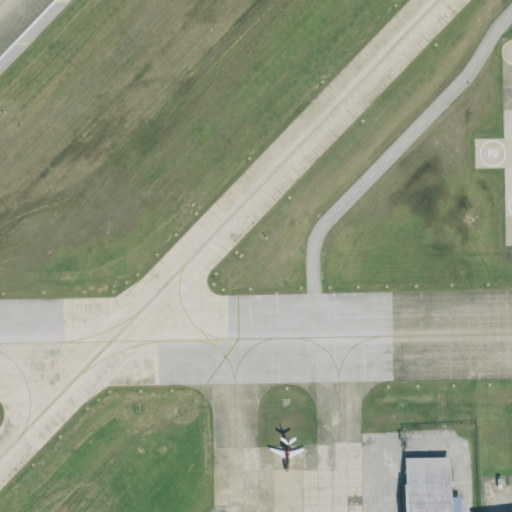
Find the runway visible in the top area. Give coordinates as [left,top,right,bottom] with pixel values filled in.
[0,0,72,76]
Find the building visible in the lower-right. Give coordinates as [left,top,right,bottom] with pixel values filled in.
[406,458,462,512]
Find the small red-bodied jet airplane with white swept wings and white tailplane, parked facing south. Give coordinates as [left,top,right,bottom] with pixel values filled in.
[270,436,305,471]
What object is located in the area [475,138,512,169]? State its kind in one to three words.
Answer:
helipad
